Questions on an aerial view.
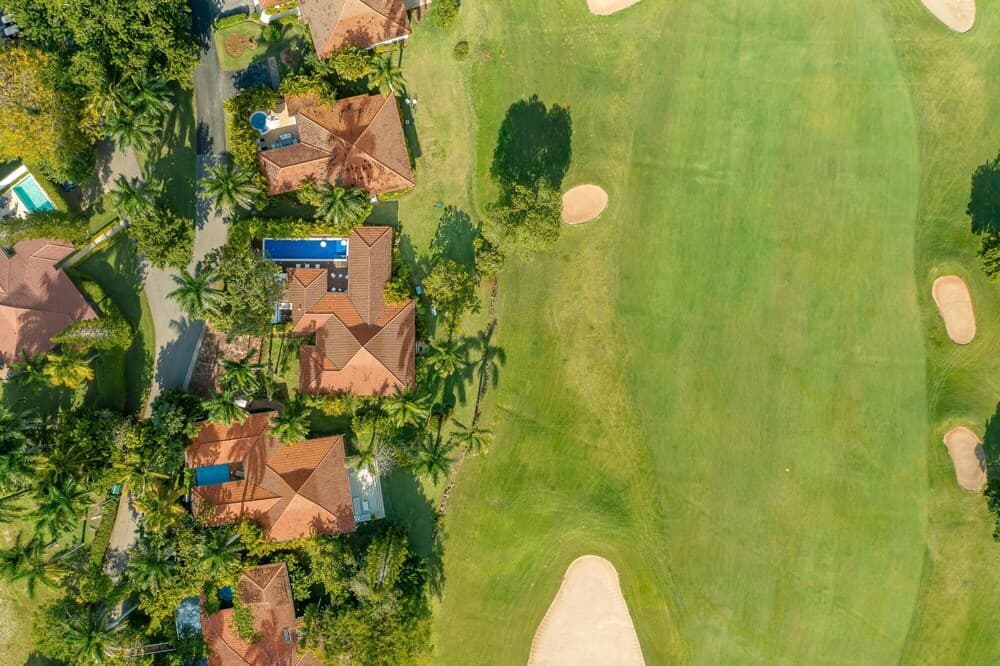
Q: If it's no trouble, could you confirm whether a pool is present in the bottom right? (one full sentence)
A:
No, no pool is visible in the bottom right.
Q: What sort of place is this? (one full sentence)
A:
This looks like a golf course.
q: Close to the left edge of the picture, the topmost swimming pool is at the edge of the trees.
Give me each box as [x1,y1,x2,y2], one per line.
[10,172,57,226]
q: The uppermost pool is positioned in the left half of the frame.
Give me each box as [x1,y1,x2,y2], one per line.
[250,111,269,133]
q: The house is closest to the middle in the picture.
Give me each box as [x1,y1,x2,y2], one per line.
[261,227,415,395]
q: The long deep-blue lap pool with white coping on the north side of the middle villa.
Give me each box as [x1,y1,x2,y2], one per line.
[264,238,348,261]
